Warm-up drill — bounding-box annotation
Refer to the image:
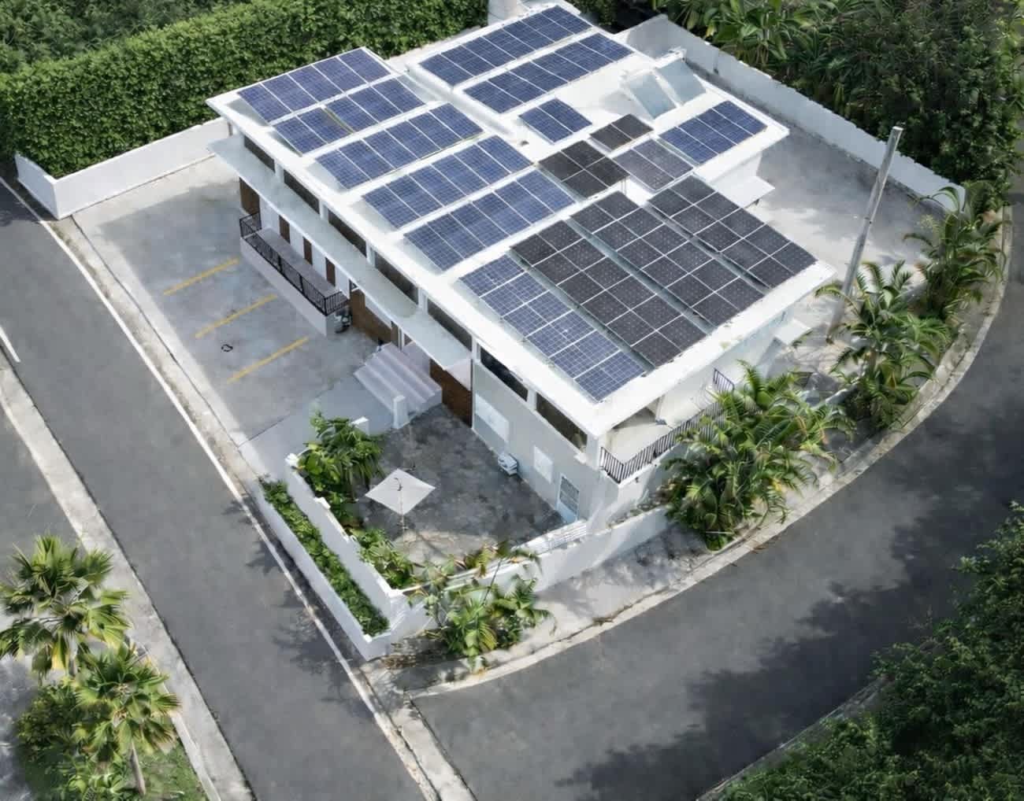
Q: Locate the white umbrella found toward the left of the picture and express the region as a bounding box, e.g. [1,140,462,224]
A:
[367,469,435,545]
